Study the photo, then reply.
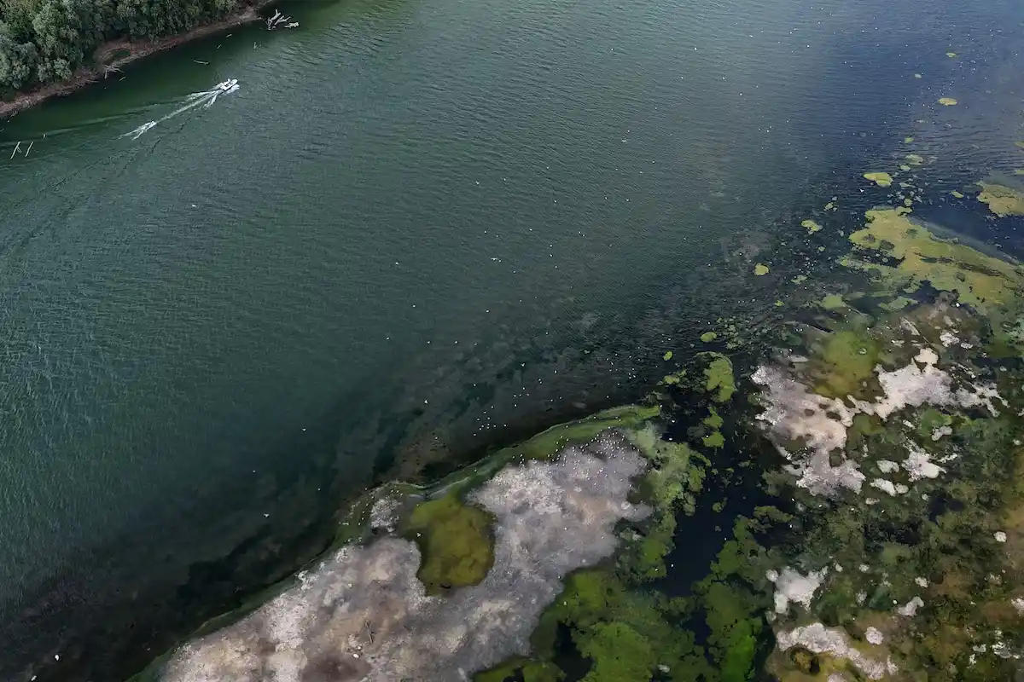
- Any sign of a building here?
No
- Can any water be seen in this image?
Yes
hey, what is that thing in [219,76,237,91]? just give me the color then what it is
white boat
